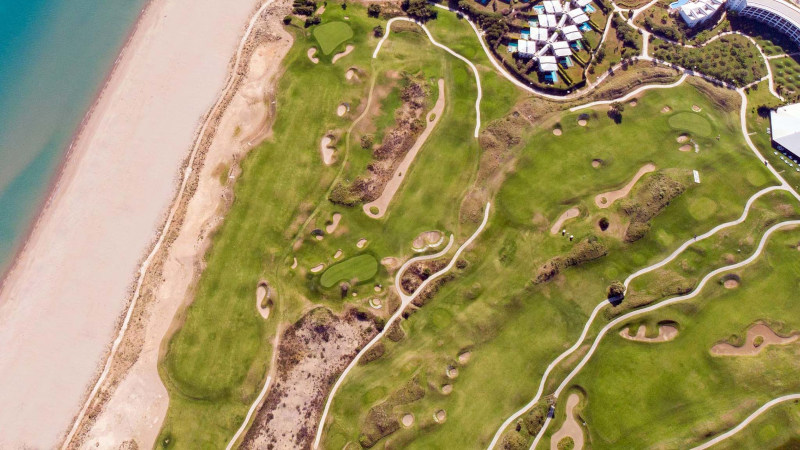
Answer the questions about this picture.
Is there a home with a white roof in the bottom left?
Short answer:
No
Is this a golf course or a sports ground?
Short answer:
golf course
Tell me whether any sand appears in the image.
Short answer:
Yes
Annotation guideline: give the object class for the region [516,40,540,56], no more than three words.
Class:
house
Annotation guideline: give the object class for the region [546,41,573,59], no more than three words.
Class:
house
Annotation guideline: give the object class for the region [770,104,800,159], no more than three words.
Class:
building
